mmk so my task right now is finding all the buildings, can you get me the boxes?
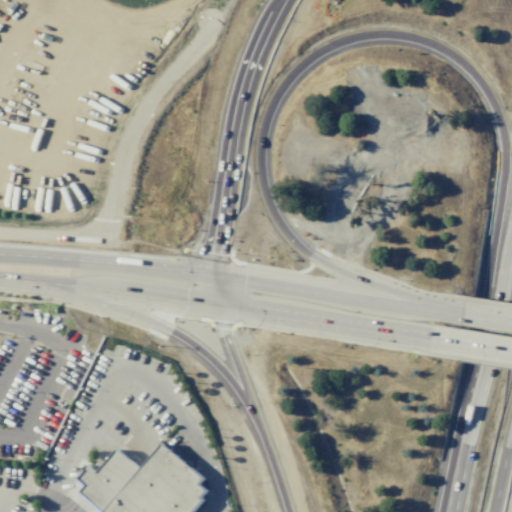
[77,444,208,512]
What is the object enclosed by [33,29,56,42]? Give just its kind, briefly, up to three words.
vehicle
